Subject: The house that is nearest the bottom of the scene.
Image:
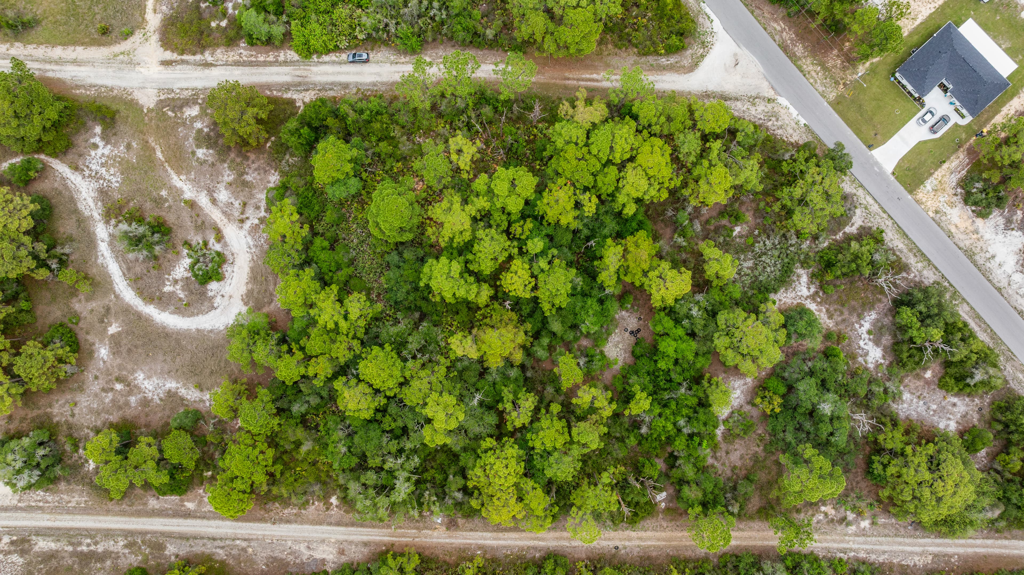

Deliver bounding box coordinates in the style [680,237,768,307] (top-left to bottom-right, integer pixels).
[896,20,1012,120]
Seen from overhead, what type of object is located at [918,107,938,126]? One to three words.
car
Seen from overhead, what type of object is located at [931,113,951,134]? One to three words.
car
